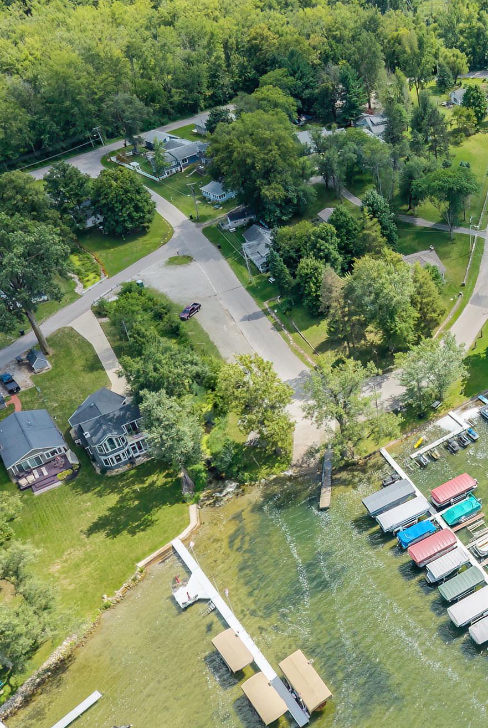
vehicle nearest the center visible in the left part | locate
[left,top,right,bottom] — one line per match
[180,302,201,318]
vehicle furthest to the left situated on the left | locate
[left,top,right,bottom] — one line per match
[0,375,17,394]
